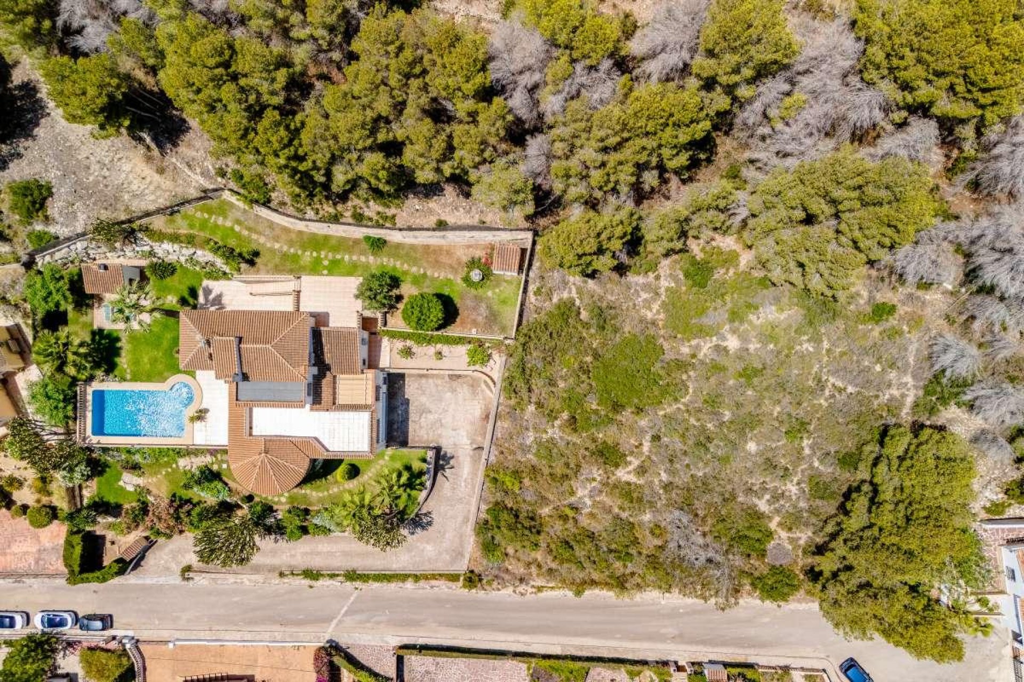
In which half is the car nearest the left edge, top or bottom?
bottom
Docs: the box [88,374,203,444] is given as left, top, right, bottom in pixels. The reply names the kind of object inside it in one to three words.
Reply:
swimming pool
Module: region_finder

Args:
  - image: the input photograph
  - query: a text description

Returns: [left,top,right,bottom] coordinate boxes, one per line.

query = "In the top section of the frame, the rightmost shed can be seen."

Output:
[491,243,522,276]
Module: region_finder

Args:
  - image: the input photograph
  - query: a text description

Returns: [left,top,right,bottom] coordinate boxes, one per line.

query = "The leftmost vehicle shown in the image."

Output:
[0,608,27,631]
